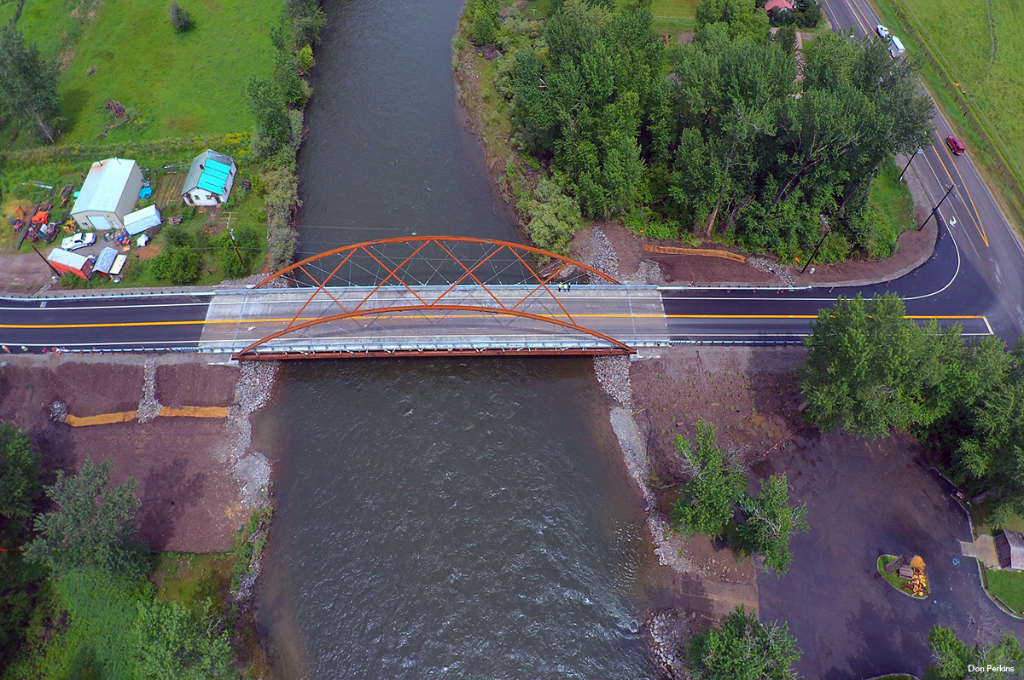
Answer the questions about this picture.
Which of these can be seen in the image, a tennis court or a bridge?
bridge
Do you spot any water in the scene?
Yes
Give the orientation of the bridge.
from side to side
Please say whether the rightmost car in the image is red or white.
red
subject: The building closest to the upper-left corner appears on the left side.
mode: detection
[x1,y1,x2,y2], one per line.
[68,153,140,231]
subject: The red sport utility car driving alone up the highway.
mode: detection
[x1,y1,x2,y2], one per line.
[947,137,974,157]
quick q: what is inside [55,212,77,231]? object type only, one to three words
work vehicle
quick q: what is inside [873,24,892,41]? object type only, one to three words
vehicle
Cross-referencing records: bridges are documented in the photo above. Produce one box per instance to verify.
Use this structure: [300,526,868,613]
[192,236,675,372]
